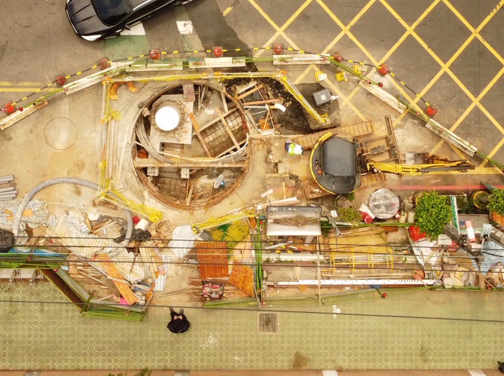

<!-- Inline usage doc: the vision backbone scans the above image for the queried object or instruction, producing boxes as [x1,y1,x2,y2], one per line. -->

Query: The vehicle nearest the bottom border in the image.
[297,116,475,200]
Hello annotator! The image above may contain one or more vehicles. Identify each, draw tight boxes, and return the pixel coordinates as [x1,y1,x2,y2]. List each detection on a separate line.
[297,116,475,200]
[65,0,199,40]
